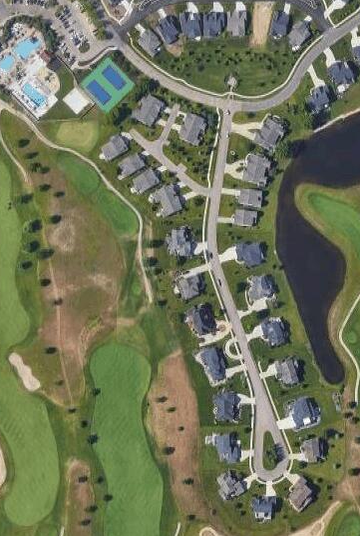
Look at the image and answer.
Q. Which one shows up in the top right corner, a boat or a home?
home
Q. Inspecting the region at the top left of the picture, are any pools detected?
Yes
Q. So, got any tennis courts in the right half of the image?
No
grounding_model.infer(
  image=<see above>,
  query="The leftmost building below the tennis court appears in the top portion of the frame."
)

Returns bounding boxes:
[102,135,128,160]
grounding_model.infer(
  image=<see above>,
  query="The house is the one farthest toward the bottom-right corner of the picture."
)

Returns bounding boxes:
[288,479,314,512]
